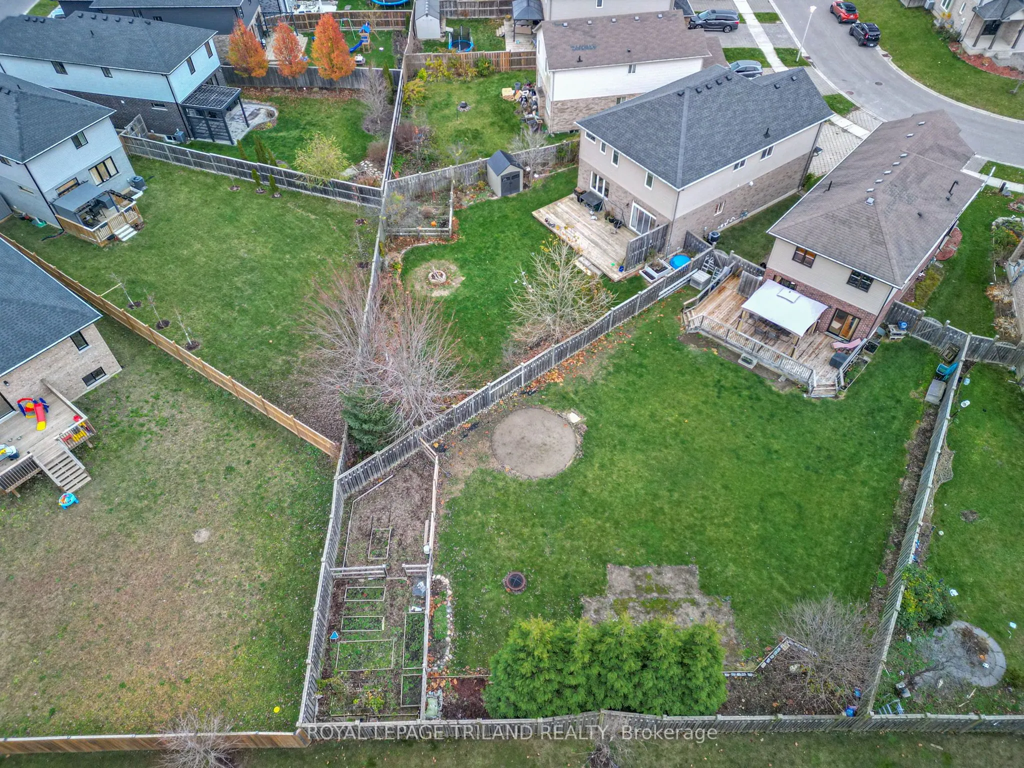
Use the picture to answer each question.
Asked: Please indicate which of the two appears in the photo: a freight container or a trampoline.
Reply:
trampoline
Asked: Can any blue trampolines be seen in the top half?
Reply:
Yes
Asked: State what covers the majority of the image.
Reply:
grass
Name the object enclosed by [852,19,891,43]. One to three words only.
car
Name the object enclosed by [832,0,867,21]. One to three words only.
car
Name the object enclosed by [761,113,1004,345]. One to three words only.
house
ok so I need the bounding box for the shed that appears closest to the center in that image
[480,149,522,196]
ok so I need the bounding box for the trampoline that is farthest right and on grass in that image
[448,28,472,56]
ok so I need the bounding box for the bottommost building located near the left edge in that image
[0,236,121,417]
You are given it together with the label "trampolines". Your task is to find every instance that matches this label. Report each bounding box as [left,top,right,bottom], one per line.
[448,28,472,56]
[370,0,410,10]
